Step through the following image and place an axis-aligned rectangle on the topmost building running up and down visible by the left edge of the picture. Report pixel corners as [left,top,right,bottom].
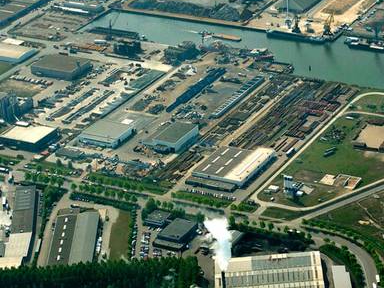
[10,183,38,236]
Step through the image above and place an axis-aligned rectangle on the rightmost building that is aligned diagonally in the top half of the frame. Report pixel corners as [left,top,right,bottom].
[212,77,266,126]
